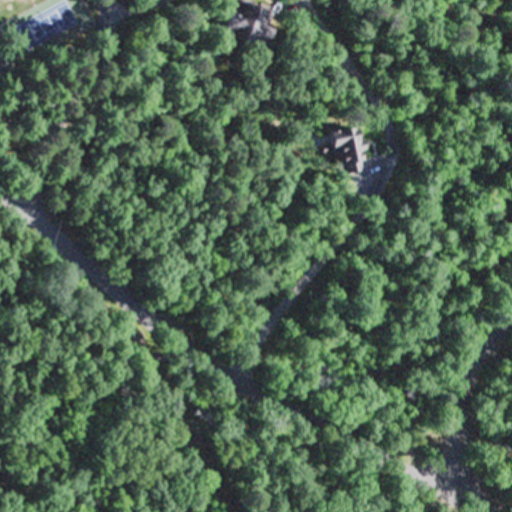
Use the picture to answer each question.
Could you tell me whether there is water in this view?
No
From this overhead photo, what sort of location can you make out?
forest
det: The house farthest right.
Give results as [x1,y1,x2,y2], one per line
[334,126,369,174]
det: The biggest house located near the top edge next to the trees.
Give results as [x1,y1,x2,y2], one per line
[250,1,278,40]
